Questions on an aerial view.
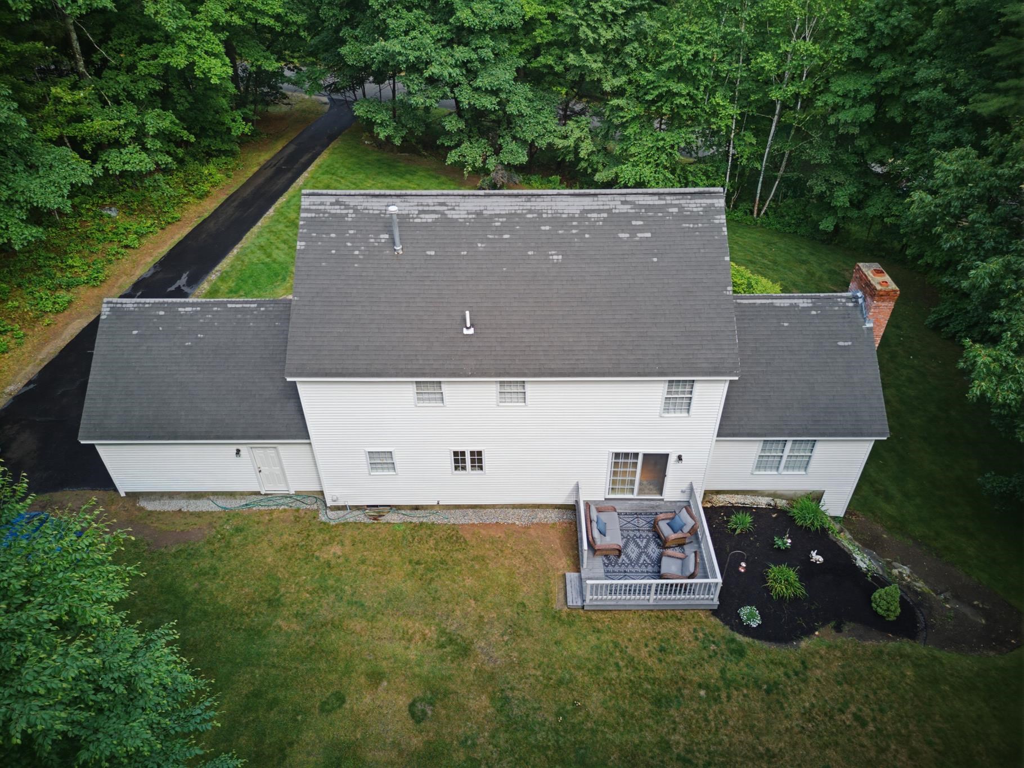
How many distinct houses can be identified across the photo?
1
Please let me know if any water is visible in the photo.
No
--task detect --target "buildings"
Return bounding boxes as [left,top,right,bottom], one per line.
[78,185,900,515]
